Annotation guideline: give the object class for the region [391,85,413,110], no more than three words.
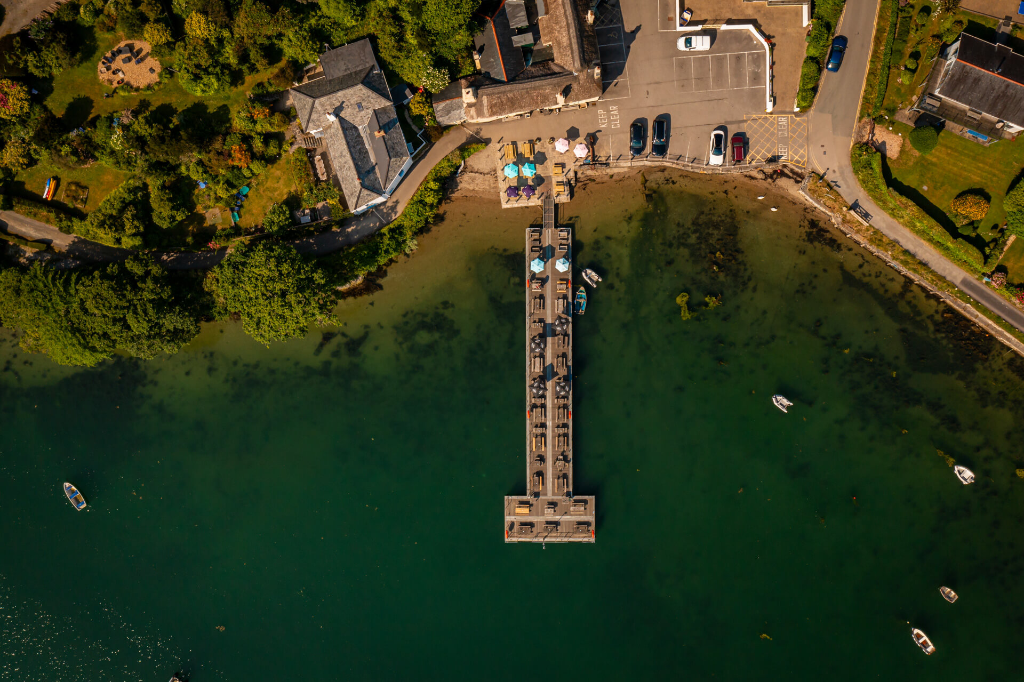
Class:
shed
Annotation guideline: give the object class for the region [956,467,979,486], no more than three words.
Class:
boat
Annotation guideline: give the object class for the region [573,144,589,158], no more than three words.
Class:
umbrella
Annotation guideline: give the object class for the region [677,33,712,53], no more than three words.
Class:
vehicle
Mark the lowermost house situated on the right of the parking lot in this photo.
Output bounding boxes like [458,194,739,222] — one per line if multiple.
[935,32,1024,133]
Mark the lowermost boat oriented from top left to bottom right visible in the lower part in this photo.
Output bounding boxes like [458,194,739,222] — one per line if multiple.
[914,630,937,657]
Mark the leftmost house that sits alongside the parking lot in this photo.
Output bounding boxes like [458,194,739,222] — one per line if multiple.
[289,37,411,215]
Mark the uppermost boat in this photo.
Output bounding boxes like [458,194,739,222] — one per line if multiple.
[680,6,693,26]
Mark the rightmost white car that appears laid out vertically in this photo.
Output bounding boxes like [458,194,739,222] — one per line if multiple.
[709,129,726,166]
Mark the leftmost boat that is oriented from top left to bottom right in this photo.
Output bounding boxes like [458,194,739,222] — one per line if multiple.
[63,484,86,512]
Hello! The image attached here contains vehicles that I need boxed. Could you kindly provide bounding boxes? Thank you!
[709,129,726,166]
[651,116,669,155]
[824,36,847,73]
[630,123,646,157]
[730,134,747,166]
[677,33,712,53]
